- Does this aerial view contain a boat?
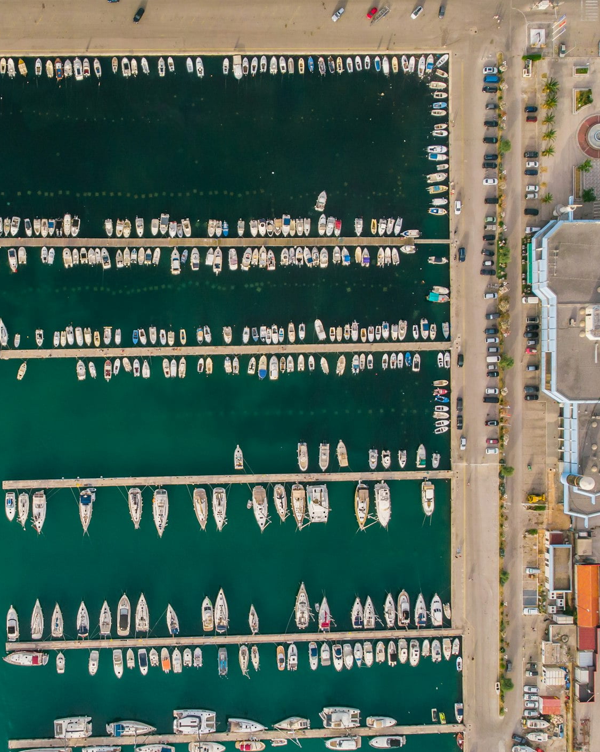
Yes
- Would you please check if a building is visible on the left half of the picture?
No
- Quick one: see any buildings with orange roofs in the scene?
Yes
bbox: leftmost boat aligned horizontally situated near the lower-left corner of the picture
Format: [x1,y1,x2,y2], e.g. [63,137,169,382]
[3,651,46,668]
